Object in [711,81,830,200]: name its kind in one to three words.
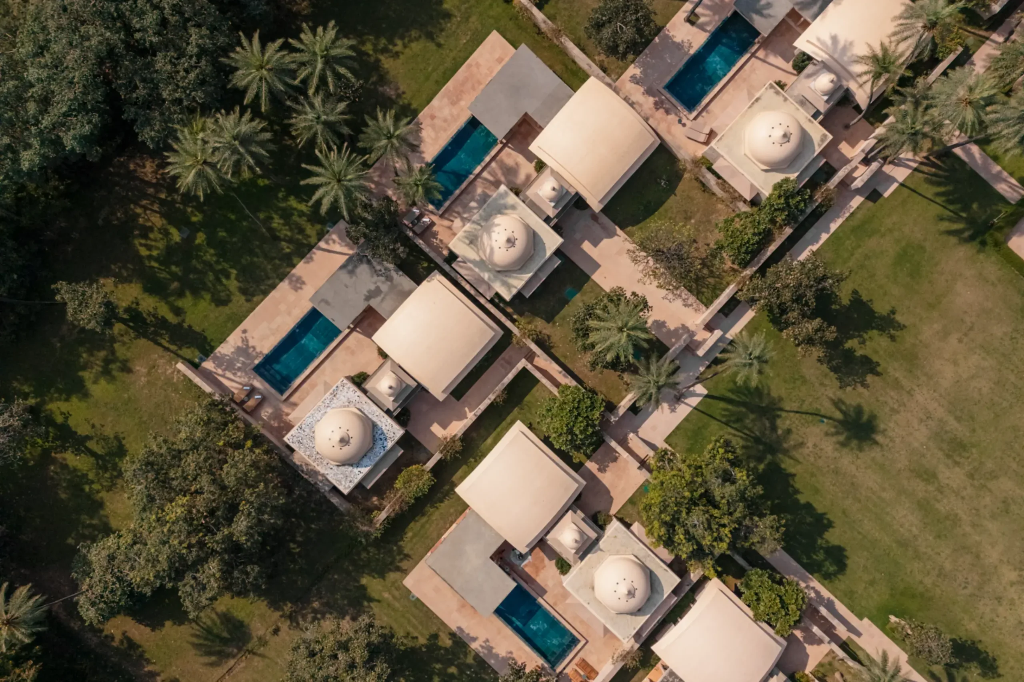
building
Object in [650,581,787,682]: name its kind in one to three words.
house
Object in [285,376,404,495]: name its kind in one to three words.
building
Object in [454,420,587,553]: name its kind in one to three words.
house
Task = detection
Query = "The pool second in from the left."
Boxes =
[406,115,521,217]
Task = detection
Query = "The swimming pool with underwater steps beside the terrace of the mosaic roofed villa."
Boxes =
[248,304,366,405]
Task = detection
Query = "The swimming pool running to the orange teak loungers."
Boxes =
[488,565,586,674]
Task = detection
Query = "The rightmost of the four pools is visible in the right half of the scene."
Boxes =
[659,4,787,122]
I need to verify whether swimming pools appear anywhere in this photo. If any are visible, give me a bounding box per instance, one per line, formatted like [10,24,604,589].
[488,565,586,674]
[659,4,787,122]
[406,115,521,217]
[248,304,366,405]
